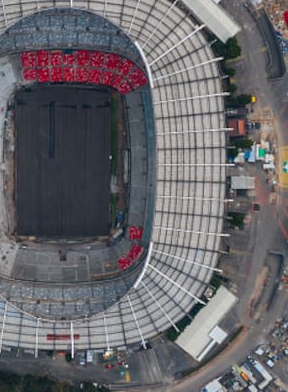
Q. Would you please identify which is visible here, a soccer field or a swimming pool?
soccer field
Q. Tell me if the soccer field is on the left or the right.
left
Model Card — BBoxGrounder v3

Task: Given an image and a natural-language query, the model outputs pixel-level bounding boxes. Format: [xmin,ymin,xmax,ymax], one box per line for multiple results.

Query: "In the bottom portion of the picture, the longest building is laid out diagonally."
[173,284,237,360]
